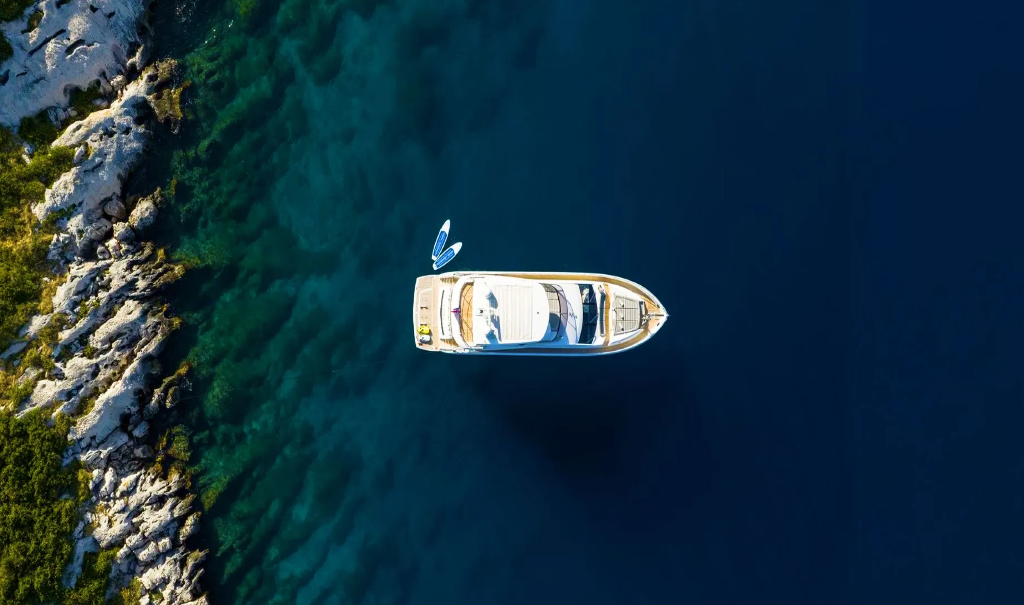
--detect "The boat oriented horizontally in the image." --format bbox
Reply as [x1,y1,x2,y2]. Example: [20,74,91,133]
[413,271,671,357]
